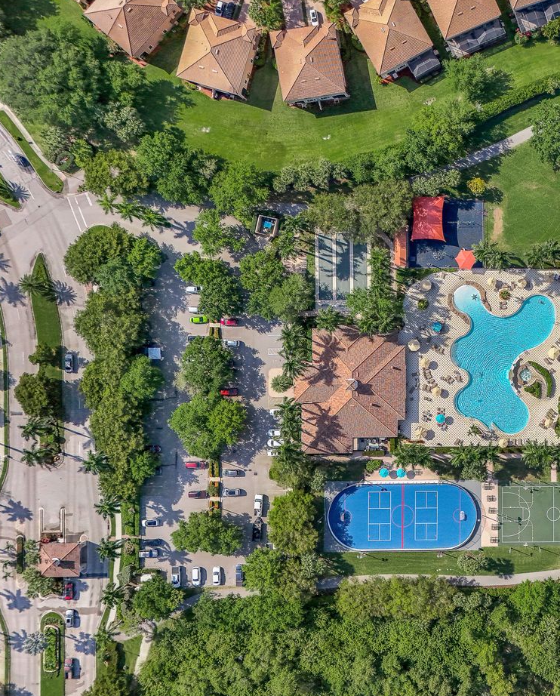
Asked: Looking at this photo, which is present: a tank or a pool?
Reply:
pool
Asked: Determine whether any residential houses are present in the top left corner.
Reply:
Yes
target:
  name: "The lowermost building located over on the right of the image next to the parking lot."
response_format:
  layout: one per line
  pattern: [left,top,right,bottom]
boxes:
[294,328,405,453]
